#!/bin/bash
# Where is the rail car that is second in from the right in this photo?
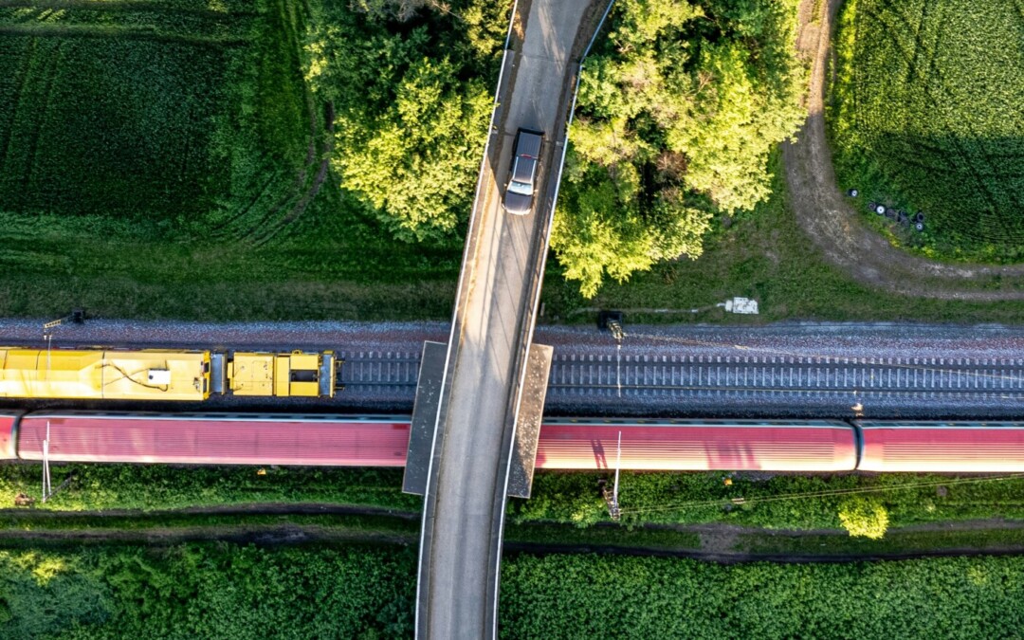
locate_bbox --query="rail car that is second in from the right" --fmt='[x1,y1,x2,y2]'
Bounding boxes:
[534,415,858,470]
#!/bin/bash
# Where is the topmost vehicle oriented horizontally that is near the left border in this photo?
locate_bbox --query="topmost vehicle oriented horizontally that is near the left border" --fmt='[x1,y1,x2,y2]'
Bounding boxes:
[0,344,232,403]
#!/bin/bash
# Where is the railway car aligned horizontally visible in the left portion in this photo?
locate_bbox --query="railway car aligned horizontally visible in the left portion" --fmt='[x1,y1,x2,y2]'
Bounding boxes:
[16,407,413,465]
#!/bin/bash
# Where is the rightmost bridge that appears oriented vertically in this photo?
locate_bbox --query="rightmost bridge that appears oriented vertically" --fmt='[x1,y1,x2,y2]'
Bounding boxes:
[402,50,583,640]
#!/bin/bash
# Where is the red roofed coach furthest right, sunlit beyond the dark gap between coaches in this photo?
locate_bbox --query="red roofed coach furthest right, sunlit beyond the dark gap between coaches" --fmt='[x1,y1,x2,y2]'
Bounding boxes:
[847,419,1024,471]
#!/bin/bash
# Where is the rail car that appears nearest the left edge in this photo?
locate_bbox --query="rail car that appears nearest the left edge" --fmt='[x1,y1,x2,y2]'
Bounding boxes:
[0,406,31,458]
